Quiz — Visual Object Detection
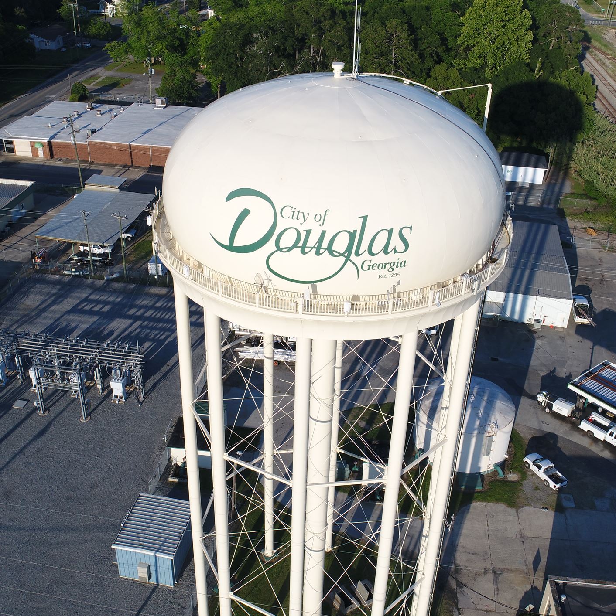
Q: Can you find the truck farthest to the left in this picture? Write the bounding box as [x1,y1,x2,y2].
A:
[30,239,58,266]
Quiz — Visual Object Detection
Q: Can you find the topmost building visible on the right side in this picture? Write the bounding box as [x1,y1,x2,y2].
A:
[503,154,548,186]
